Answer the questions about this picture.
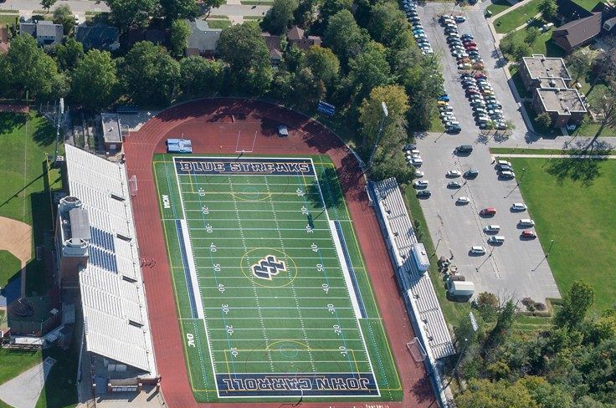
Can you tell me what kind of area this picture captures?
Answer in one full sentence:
This image shows a sports ground.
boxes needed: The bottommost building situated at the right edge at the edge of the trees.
[517,52,588,132]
